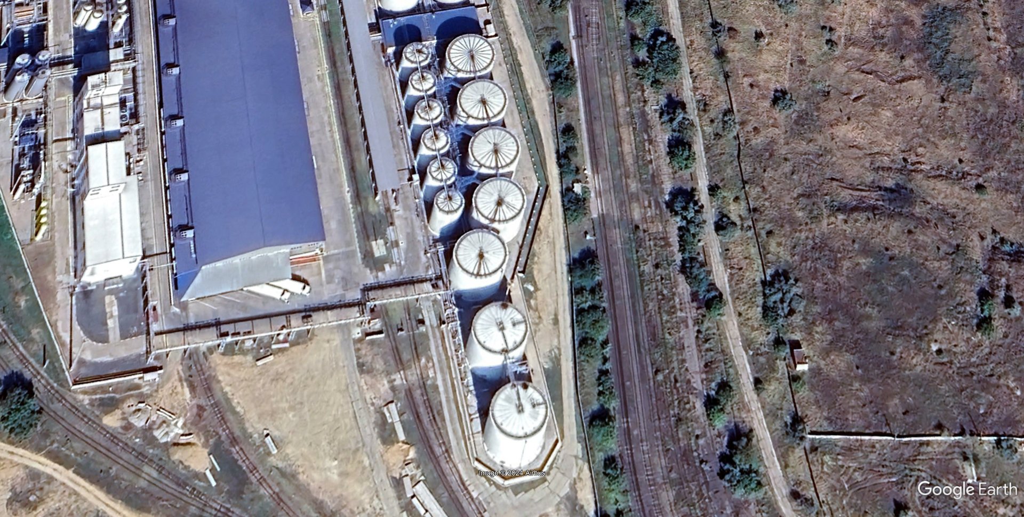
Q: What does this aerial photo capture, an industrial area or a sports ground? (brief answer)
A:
industrial area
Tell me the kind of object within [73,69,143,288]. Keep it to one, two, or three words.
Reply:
building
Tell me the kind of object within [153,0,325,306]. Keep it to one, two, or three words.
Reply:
warehouse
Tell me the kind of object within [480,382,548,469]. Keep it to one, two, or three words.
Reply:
storage tank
